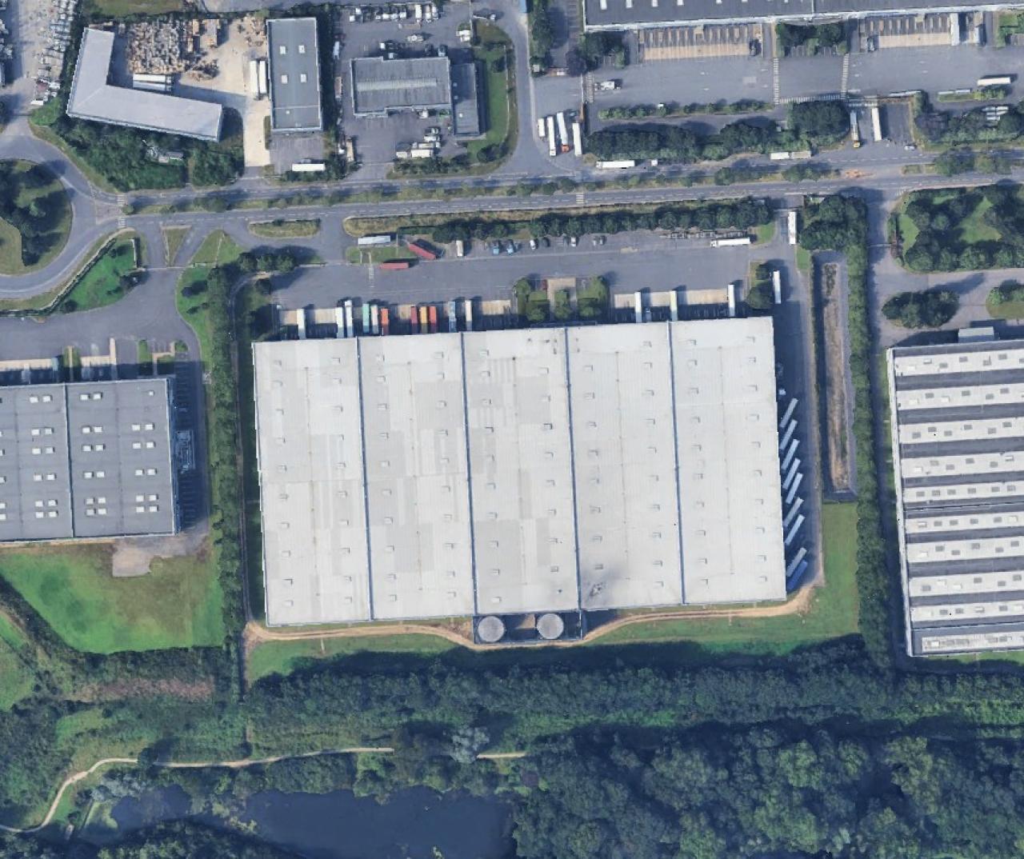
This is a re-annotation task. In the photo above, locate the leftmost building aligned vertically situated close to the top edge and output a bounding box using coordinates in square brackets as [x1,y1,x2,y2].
[266,18,325,136]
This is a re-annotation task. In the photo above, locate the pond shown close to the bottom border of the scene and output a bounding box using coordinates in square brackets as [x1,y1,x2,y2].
[96,786,517,859]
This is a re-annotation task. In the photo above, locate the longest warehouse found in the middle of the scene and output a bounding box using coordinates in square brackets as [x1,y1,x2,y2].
[252,316,787,628]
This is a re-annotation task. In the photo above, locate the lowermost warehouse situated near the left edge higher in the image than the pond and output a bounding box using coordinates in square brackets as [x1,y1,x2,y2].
[0,378,181,543]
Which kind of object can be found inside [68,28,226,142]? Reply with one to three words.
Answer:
building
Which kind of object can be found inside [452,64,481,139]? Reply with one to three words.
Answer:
building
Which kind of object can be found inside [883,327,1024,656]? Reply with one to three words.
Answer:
warehouse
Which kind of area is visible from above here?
industrial area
